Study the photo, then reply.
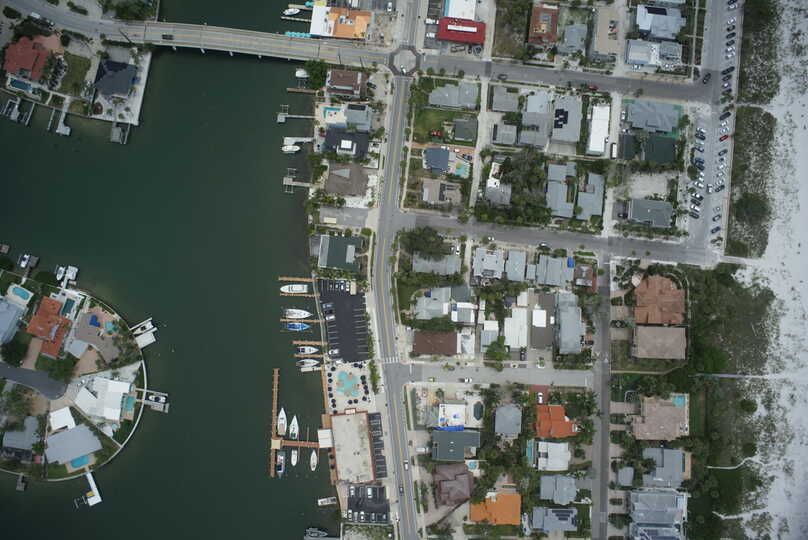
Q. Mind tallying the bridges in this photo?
1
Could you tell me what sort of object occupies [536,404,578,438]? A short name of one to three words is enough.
house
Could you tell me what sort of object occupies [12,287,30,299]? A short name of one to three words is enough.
swimming pool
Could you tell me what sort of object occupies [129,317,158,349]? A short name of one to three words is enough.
pier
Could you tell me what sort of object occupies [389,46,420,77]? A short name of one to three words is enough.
roundabout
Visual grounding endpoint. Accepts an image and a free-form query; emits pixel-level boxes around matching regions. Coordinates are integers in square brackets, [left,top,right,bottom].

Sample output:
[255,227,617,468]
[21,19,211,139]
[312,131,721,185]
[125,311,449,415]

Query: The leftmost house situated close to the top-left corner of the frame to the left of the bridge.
[5,36,55,82]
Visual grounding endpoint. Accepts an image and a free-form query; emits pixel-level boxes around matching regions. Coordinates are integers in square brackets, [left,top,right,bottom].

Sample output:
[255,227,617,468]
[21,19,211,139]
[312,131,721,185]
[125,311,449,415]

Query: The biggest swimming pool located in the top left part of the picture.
[9,77,32,92]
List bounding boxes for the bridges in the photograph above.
[126,22,391,72]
